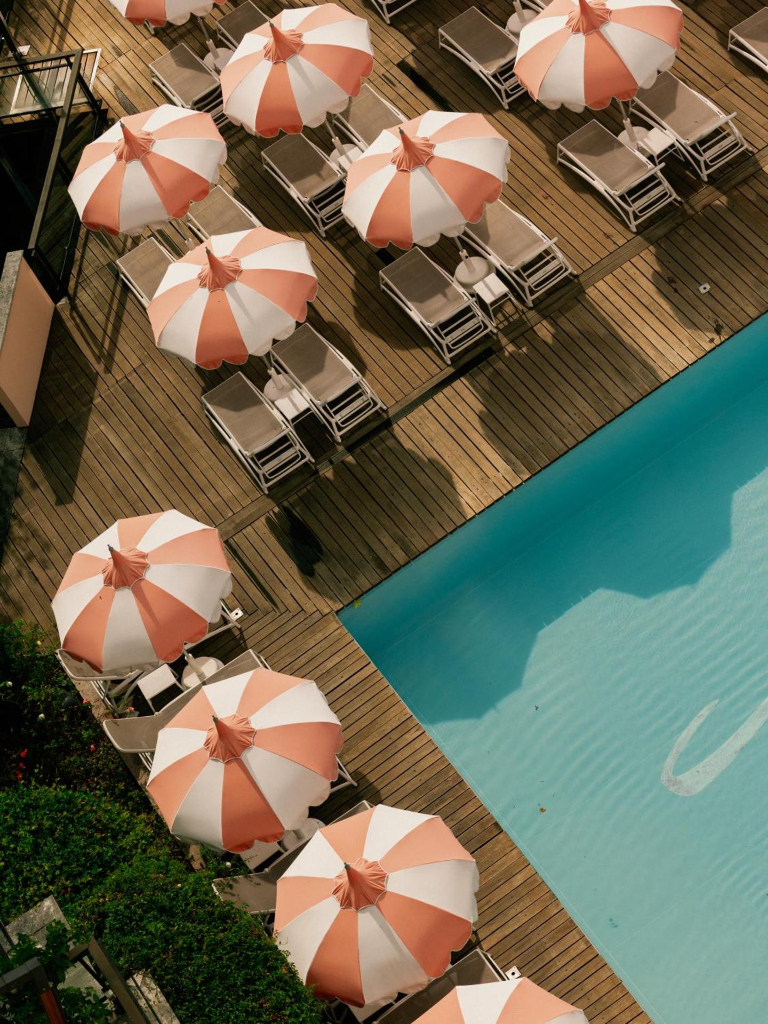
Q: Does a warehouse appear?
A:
No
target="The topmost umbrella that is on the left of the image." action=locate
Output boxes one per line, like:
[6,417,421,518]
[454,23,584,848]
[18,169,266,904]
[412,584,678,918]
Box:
[110,0,233,77]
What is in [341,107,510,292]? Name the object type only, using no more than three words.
umbrella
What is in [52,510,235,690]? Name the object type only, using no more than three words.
umbrella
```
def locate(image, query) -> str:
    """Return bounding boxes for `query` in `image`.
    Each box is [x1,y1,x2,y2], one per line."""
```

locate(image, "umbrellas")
[413,979,586,1024]
[110,0,233,77]
[271,802,478,1008]
[66,100,227,251]
[508,0,536,40]
[512,0,683,159]
[147,667,344,856]
[219,3,377,178]
[52,510,235,690]
[341,107,510,292]
[146,224,318,410]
